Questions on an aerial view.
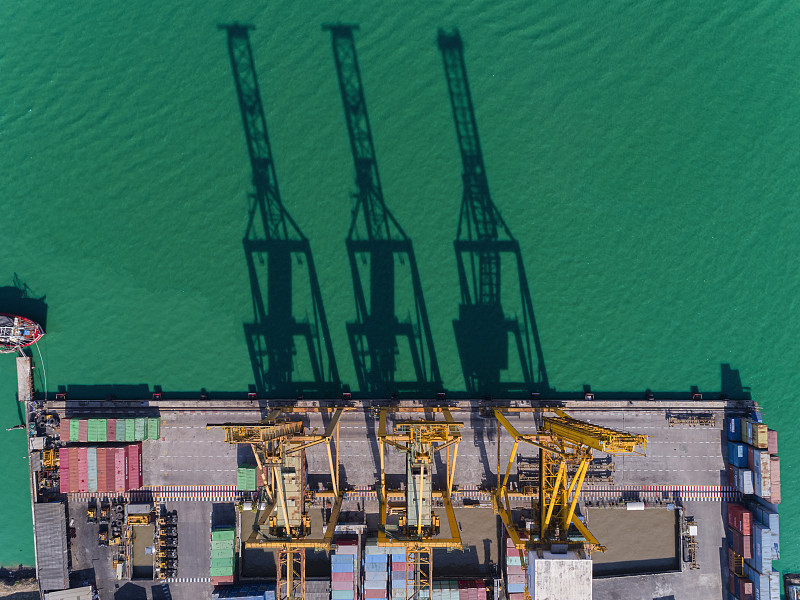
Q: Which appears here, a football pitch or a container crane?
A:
container crane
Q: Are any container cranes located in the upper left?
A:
No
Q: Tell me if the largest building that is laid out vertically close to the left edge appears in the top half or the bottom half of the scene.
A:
bottom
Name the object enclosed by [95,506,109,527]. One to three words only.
work vehicle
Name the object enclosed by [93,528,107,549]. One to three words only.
work vehicle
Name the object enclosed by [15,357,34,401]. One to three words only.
pier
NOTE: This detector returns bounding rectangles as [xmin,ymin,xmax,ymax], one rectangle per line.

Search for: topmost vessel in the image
[0,312,45,352]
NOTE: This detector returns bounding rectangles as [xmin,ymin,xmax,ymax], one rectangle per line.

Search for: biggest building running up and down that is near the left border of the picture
[34,498,72,591]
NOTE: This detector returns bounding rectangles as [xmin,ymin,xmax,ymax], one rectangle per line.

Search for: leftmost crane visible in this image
[205,408,363,600]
